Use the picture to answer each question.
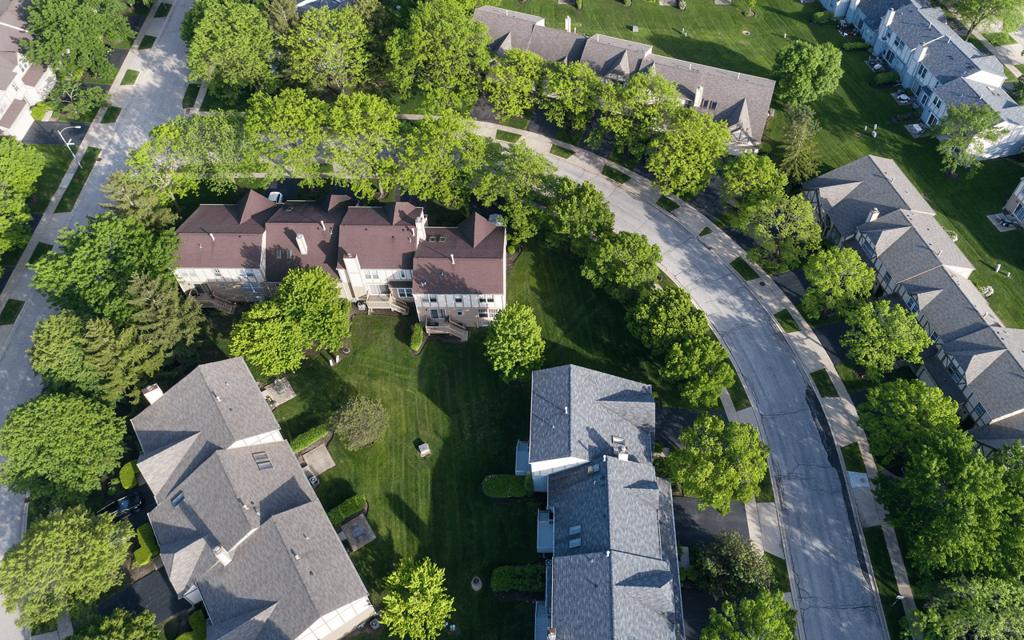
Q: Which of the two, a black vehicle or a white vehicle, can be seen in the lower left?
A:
black vehicle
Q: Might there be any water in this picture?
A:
No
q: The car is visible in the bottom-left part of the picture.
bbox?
[98,486,144,518]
